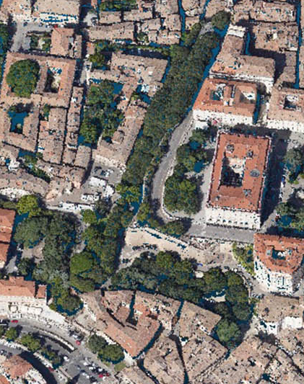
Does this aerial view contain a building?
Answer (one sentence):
Yes, the photo shows a building.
